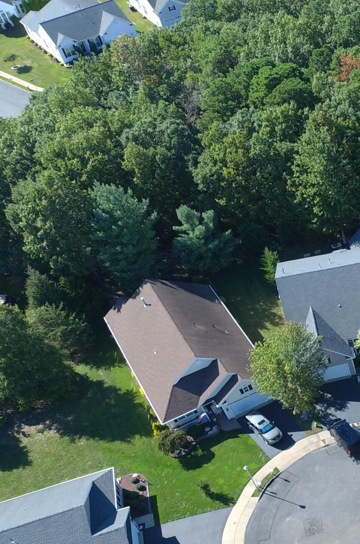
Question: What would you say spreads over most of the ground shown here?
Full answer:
The scene is dominated by trees.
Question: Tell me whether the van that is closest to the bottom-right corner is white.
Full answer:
No, the color of the van that is closest to the bottom-right corner is black.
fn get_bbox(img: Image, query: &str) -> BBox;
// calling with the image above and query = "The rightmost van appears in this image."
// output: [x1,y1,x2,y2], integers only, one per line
[327,419,360,455]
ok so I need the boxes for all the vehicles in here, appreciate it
[327,419,360,455]
[246,412,281,444]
